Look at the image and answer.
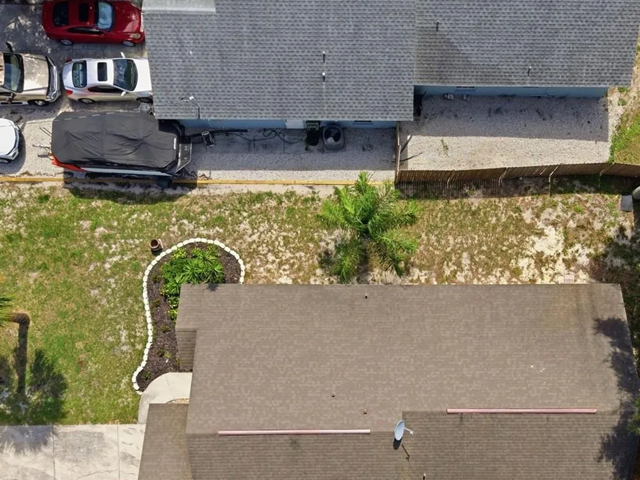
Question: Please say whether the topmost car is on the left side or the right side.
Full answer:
The topmost car is on the left side of the image.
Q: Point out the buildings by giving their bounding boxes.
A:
[139,283,638,480]
[142,0,640,130]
